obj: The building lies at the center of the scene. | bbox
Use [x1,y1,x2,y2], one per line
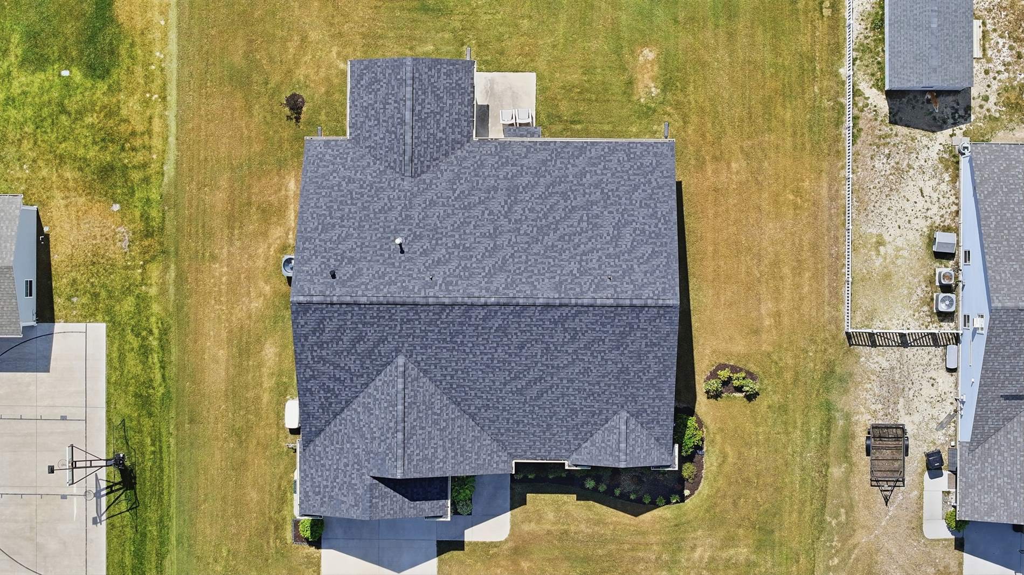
[290,47,680,520]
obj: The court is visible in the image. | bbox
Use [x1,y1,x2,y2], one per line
[0,323,106,575]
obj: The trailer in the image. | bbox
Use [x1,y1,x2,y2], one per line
[865,424,910,506]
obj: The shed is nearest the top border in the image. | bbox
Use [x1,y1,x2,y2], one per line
[884,0,973,90]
